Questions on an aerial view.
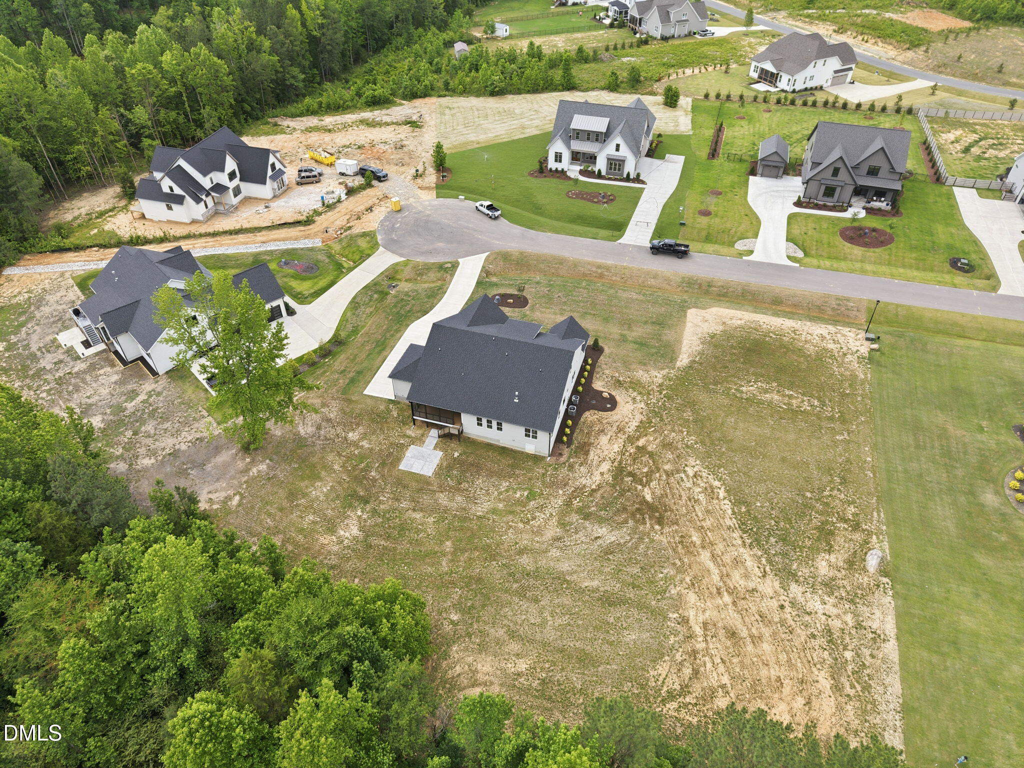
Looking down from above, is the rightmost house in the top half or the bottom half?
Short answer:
top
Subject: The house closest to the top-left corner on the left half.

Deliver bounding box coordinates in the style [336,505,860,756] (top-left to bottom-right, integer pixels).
[128,126,292,223]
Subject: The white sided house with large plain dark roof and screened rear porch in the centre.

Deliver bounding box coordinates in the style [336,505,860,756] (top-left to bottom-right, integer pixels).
[388,292,590,457]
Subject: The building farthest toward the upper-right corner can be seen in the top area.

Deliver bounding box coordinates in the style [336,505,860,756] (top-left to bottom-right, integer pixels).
[987,141,1024,202]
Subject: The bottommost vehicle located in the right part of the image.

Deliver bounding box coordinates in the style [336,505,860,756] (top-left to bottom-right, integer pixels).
[648,239,693,260]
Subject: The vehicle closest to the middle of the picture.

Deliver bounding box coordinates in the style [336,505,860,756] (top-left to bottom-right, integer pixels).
[471,201,504,219]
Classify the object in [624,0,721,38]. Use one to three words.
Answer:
house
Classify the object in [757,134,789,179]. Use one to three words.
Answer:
building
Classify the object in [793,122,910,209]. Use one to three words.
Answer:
house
